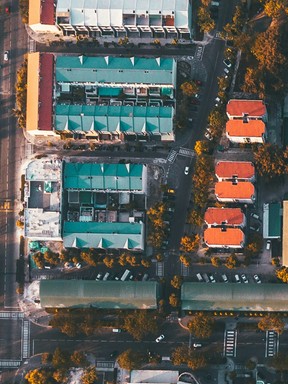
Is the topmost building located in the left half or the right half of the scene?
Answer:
left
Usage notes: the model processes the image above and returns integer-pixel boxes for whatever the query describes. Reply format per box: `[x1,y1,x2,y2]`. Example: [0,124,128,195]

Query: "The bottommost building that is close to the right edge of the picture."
[180,282,288,313]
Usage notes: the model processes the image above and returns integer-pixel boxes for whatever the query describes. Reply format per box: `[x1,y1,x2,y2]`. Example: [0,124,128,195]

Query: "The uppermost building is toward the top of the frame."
[29,0,60,32]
